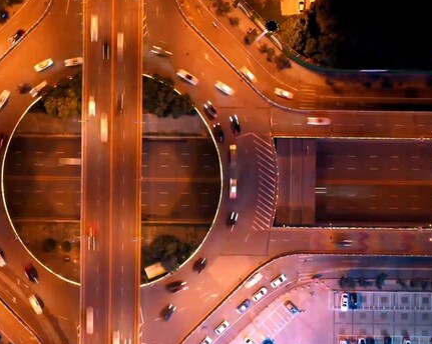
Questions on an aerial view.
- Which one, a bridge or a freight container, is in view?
bridge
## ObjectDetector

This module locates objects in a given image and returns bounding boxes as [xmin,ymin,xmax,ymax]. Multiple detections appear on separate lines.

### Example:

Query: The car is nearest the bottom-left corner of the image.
[30,295,43,312]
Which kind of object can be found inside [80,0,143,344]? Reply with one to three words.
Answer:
overpass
